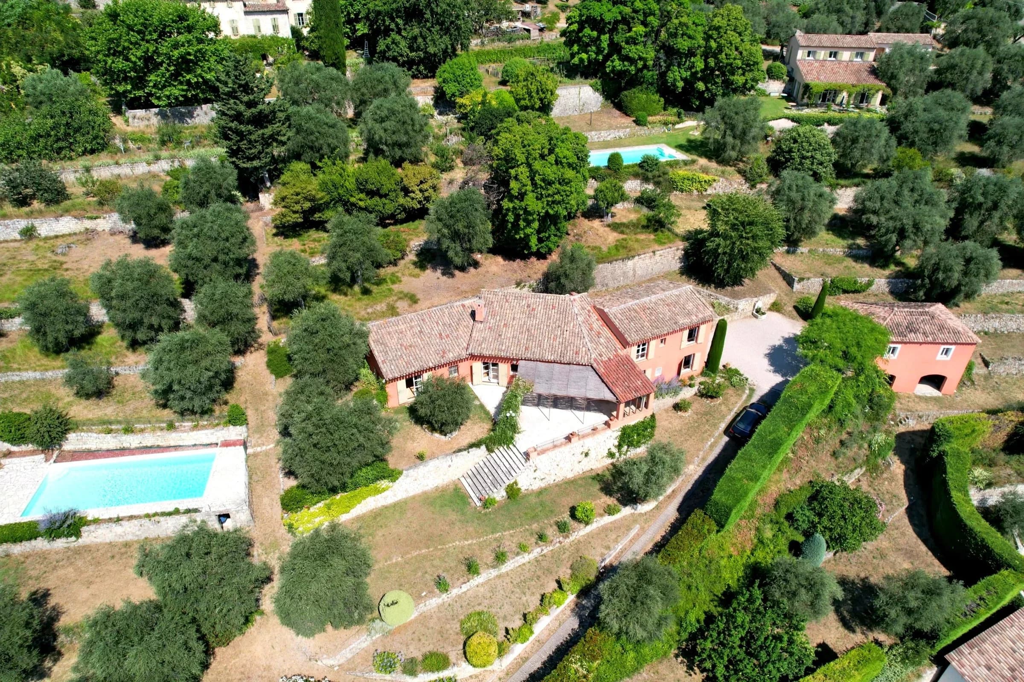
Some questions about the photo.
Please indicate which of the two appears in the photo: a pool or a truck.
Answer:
pool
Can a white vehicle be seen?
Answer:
No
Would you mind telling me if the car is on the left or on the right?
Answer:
right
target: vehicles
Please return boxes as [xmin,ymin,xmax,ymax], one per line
[729,398,771,440]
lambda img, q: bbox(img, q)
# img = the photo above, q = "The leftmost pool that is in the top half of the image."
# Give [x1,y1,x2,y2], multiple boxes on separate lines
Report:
[571,143,686,174]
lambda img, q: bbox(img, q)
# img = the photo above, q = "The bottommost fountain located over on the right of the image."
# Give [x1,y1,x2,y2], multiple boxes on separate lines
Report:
[749,301,771,323]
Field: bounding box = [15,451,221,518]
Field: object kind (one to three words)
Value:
swimming pool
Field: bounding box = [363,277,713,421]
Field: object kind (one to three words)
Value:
house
